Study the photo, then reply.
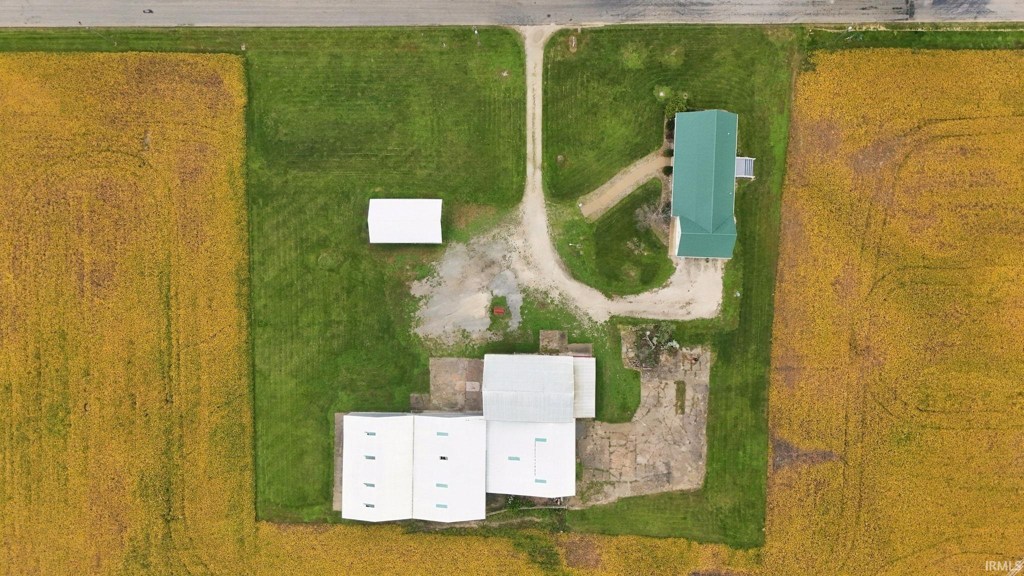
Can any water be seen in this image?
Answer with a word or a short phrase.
No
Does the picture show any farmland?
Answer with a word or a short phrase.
Yes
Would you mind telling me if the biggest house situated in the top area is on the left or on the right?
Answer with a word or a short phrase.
right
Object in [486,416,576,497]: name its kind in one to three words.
barn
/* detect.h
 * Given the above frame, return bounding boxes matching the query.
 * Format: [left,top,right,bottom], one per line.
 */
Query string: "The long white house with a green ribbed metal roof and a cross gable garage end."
[670,109,738,260]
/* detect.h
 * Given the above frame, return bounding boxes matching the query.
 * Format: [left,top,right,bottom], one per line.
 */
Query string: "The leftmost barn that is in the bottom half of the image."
[342,412,486,522]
